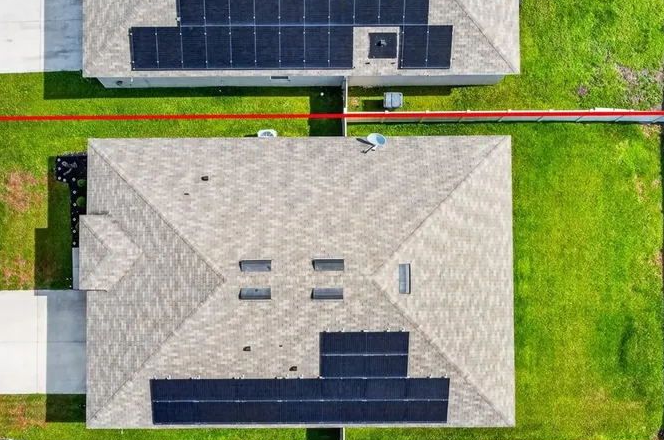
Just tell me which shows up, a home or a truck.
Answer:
home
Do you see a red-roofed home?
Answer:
No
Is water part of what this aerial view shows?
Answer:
No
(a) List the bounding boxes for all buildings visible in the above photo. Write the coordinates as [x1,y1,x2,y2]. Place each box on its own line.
[82,0,520,89]
[79,135,515,428]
